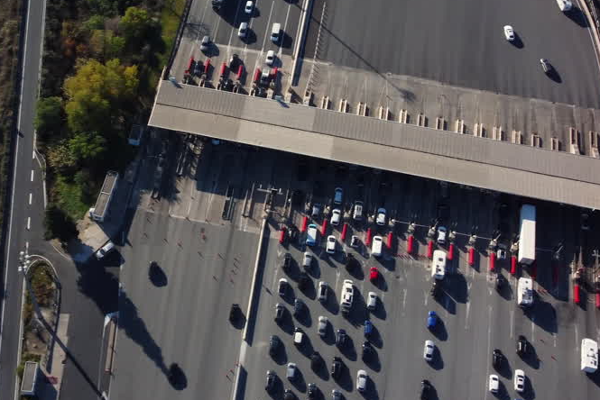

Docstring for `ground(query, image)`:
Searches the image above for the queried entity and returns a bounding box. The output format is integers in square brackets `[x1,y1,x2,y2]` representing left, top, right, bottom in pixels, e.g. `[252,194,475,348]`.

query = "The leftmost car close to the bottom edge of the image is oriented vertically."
[168,356,183,383]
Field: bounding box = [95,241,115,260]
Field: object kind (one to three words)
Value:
vehicle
